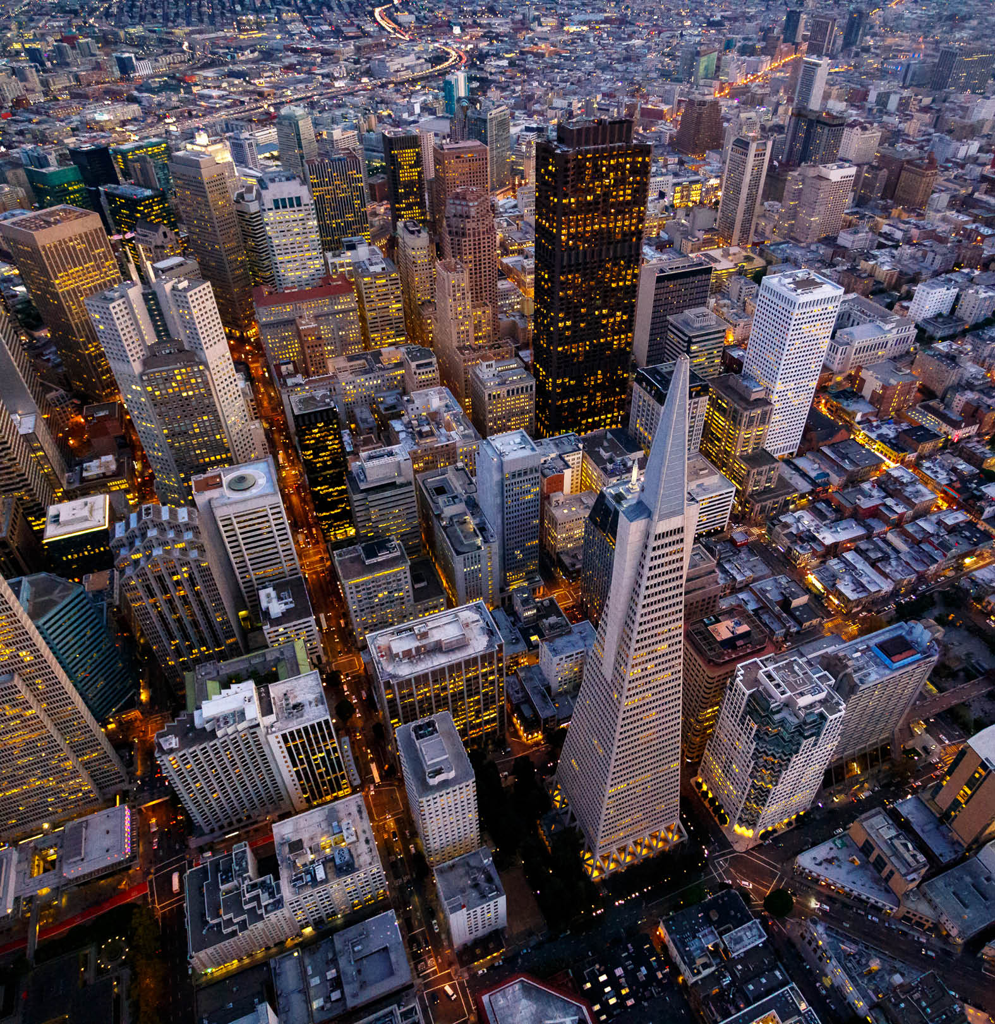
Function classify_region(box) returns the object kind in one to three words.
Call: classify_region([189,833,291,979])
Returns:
building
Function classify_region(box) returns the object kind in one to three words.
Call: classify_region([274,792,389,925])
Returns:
building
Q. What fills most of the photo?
buildings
